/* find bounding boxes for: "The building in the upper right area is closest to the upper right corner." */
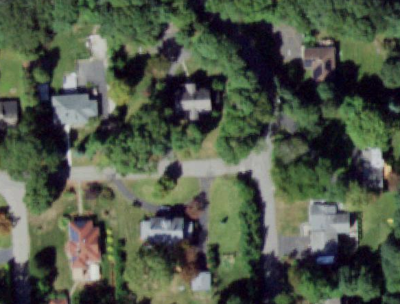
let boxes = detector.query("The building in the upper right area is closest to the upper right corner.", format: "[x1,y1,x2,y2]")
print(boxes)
[305,39,336,86]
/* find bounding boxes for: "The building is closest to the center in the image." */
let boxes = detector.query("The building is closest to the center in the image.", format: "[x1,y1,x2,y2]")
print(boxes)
[180,81,211,121]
